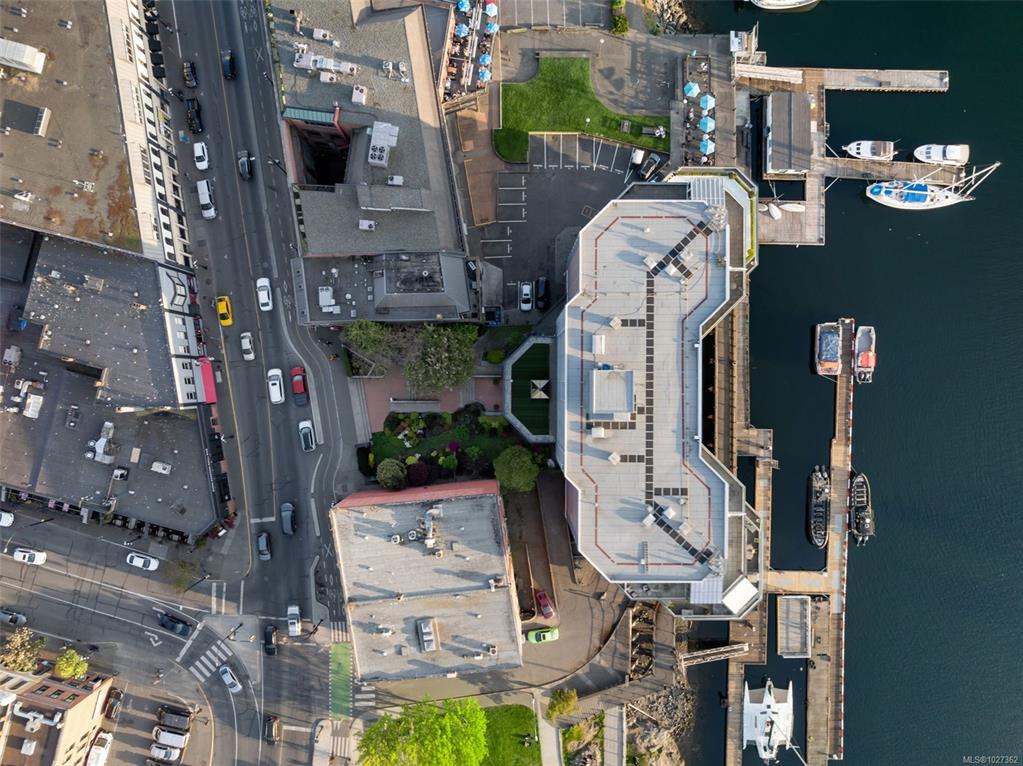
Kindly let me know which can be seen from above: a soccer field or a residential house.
residential house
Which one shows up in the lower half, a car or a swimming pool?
car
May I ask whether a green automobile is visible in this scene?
Yes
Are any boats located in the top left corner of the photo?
No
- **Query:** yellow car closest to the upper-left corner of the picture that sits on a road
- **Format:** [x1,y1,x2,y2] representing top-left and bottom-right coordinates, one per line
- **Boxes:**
[217,295,235,328]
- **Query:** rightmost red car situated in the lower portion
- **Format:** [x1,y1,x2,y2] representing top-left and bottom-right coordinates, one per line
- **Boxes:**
[535,588,554,619]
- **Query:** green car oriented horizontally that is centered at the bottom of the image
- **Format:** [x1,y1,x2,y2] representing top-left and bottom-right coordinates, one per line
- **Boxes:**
[525,625,559,642]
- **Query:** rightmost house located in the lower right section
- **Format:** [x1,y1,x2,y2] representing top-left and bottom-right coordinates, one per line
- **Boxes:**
[775,594,810,659]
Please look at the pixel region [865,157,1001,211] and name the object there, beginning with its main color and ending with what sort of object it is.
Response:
white boat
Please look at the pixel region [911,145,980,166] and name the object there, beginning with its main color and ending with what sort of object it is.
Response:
white boat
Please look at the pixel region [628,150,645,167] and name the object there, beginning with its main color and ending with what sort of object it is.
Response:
white car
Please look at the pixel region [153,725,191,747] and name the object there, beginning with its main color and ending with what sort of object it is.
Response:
white vehicle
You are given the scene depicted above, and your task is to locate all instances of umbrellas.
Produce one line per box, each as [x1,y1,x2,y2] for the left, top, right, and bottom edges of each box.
[683,82,699,99]
[486,5,498,21]
[699,140,713,155]
[480,54,491,69]
[480,70,491,85]
[487,22,499,39]
[699,95,713,111]
[699,118,713,133]
[456,25,469,42]
[458,0,469,16]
